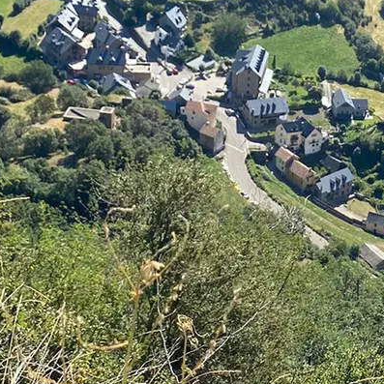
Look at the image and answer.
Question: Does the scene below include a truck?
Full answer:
No, no truck is visible in the view.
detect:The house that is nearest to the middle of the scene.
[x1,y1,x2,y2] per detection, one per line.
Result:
[199,122,229,152]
